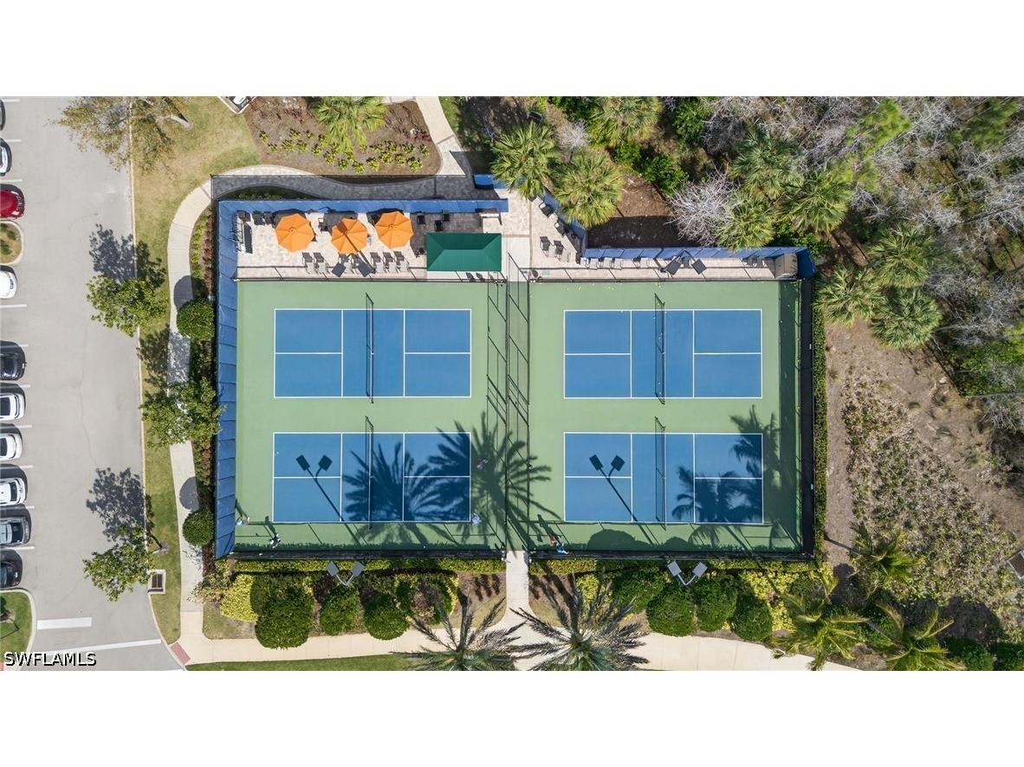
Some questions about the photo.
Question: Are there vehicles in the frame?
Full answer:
Yes, I can see a vehicle in this picture.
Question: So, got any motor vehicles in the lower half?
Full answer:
Yes, in the lower half there is a motor vehicle.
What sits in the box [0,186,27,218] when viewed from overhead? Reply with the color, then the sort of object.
red car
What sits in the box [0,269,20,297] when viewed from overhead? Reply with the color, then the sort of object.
white car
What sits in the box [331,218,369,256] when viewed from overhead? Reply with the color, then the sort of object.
orange umbrella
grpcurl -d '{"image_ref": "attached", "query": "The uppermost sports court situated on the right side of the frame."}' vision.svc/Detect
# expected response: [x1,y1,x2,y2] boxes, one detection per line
[564,309,762,398]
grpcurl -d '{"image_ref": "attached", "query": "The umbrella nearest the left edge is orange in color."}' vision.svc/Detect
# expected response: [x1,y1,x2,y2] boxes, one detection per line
[276,214,316,253]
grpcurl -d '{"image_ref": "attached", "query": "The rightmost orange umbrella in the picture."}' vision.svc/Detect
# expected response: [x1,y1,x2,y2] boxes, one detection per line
[374,210,414,250]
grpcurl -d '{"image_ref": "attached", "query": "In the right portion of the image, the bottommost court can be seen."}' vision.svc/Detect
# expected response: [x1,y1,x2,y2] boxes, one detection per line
[564,432,764,524]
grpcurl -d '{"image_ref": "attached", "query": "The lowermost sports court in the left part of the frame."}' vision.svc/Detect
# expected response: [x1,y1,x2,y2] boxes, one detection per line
[273,432,471,523]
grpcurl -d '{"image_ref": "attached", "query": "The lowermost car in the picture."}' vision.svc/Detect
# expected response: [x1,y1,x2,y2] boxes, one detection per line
[0,552,25,581]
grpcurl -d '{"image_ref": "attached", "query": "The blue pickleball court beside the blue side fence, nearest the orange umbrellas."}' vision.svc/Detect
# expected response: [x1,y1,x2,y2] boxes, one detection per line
[274,309,471,398]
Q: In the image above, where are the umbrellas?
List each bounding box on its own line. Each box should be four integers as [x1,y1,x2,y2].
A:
[374,210,414,250]
[276,214,316,253]
[331,218,369,256]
